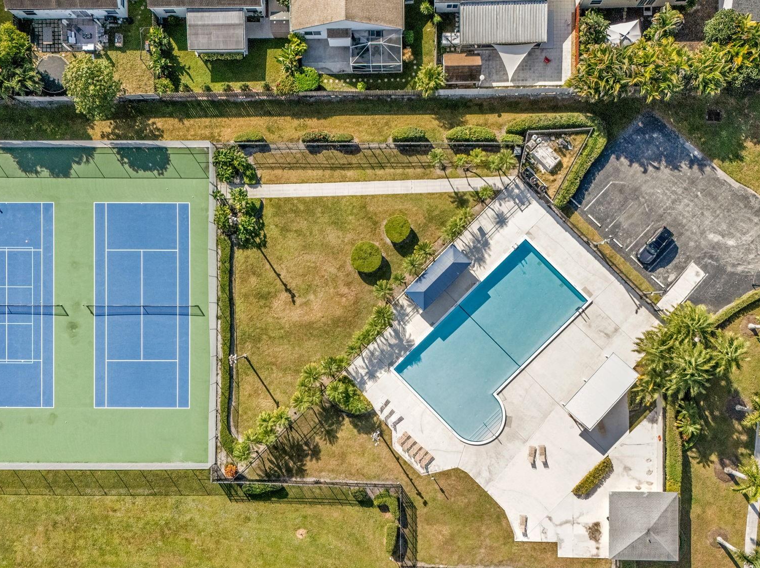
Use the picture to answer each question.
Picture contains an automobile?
Yes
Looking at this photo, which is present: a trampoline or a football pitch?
trampoline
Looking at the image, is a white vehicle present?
No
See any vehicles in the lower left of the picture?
No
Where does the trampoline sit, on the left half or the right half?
left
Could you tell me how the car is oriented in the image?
diagonally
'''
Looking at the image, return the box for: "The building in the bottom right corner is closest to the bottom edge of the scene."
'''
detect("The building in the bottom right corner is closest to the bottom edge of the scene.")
[606,490,679,561]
